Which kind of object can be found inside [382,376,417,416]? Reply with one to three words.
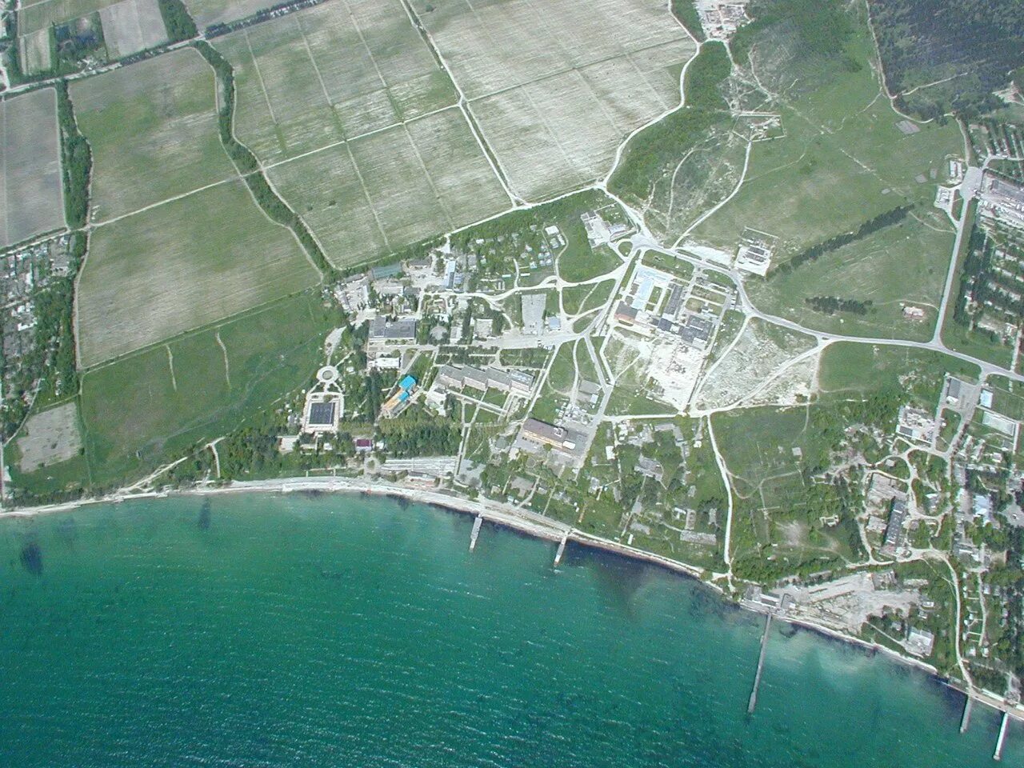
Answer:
house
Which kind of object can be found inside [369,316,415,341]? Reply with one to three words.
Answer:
building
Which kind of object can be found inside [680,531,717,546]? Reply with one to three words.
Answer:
barn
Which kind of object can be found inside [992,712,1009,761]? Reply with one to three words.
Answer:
pier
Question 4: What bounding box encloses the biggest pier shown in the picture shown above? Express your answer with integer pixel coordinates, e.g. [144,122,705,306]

[747,612,772,713]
